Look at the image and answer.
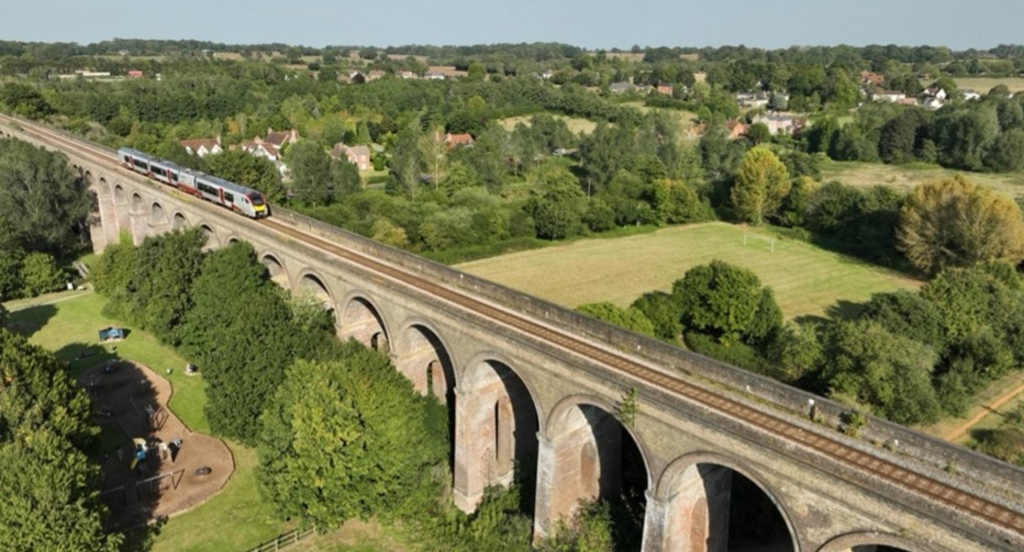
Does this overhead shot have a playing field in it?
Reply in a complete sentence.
Yes, there's a playing field down there.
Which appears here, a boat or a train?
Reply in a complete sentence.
The one in the frame is a train.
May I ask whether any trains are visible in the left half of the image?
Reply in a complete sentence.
Yes, looking in the left half of the image, one can make out a train.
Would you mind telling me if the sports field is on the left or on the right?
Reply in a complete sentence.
It is on the right.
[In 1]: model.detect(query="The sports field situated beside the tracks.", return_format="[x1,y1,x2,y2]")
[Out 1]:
[451,221,929,355]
